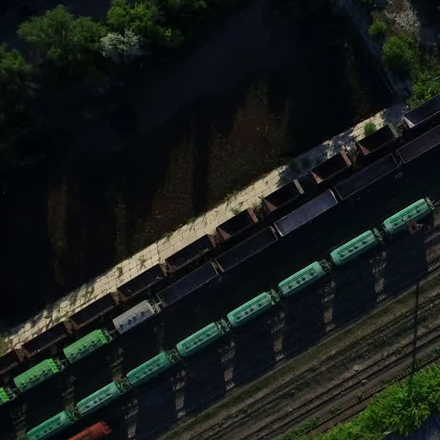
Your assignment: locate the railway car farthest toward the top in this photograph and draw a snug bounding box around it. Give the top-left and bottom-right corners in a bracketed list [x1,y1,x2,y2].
[400,93,440,132]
